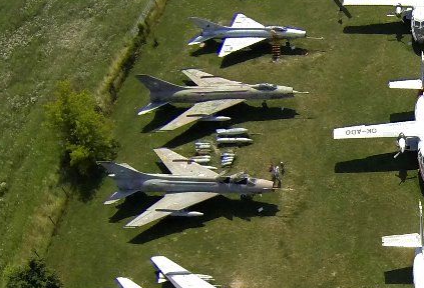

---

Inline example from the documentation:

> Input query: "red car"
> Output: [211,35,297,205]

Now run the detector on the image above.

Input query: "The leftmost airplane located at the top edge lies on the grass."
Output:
[190,14,322,57]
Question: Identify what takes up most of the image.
grass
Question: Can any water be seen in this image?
No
